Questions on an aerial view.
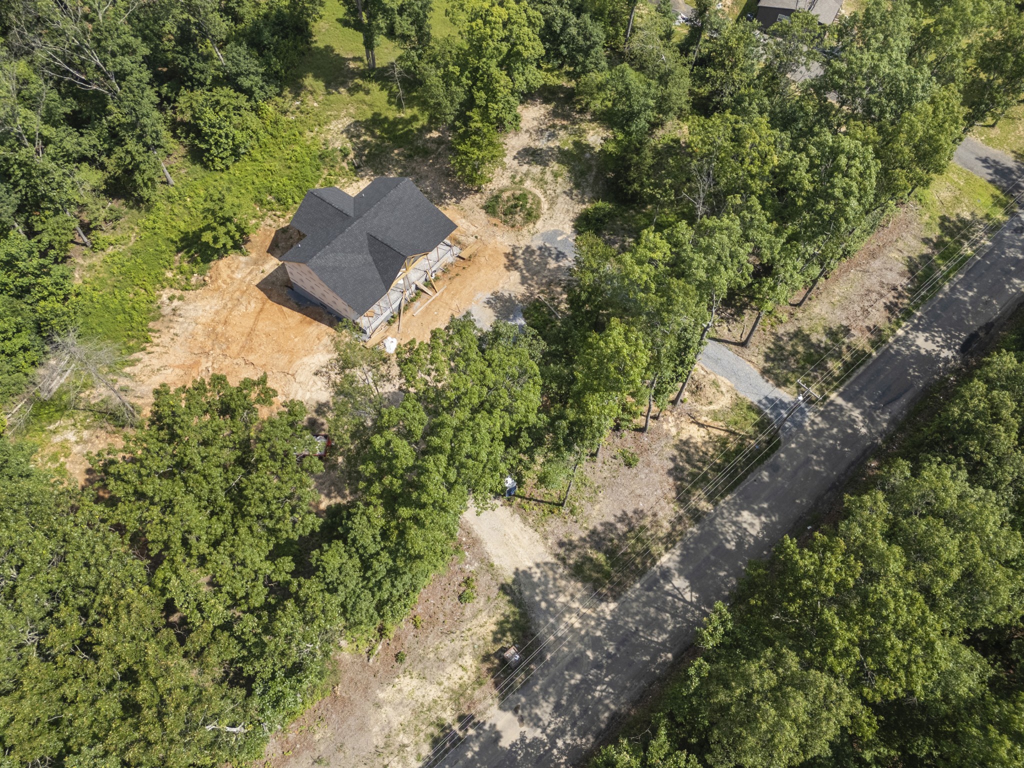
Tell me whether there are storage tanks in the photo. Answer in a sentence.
No, the photo shows no storage tank.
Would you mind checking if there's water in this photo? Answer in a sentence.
No, the picture contains no water.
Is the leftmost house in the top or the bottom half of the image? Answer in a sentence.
The leftmost house sits in the top half of the picture.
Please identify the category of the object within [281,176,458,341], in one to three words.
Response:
house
